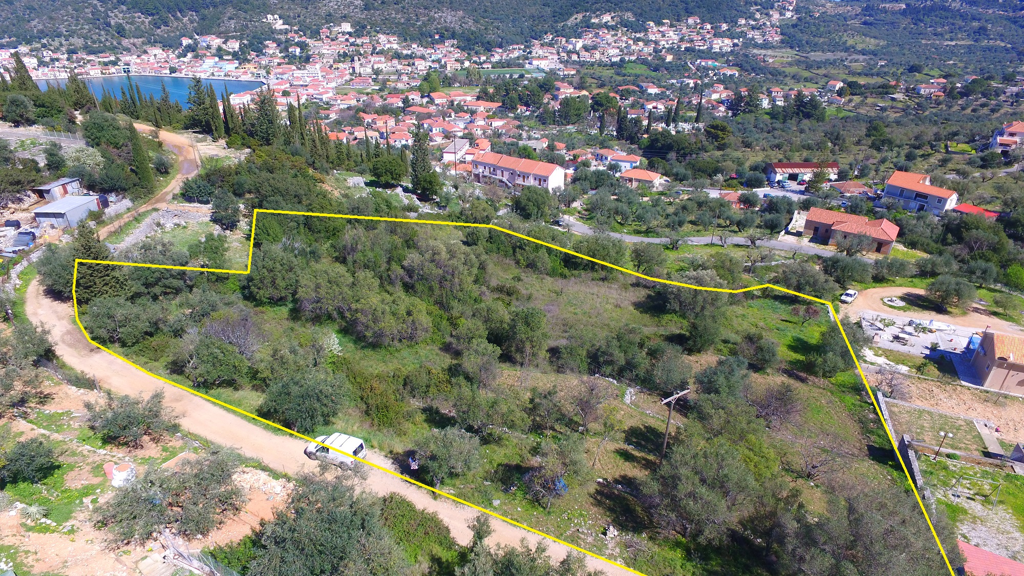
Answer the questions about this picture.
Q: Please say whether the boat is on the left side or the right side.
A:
right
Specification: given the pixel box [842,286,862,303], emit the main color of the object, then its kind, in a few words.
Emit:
white car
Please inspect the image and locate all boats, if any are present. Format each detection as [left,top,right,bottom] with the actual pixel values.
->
[908,313,961,334]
